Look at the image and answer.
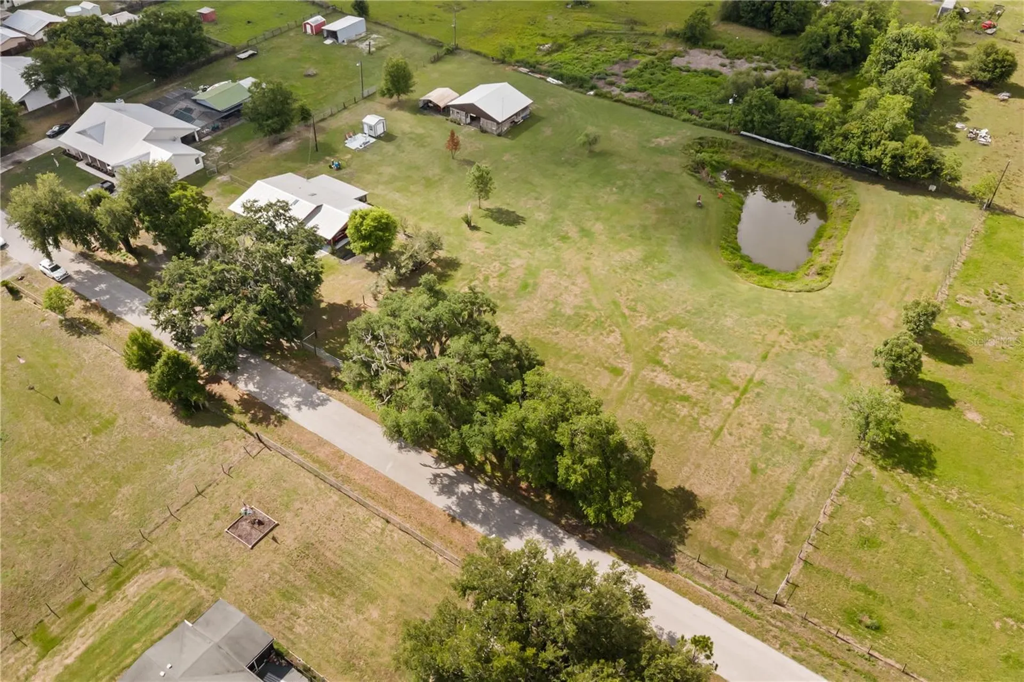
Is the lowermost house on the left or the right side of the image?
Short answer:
left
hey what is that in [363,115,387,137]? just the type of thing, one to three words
shed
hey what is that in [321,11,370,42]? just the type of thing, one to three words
shed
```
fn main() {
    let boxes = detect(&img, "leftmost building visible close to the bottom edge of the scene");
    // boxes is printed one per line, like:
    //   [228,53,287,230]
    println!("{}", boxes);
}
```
[118,599,275,682]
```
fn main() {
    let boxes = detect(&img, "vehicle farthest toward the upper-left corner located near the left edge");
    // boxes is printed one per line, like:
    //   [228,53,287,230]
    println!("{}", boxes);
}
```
[43,124,72,139]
